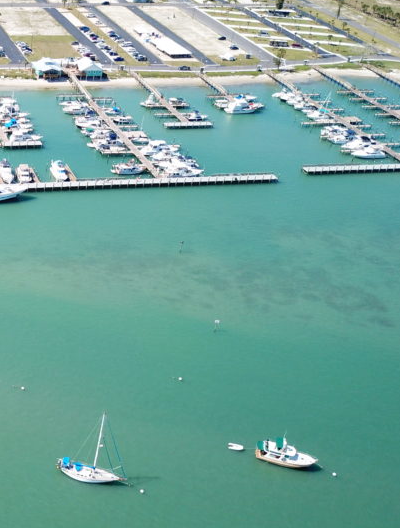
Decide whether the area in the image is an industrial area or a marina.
marina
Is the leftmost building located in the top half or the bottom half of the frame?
top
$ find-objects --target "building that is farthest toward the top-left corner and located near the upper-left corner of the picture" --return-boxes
[28,59,67,80]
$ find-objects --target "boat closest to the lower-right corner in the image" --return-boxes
[254,434,330,472]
